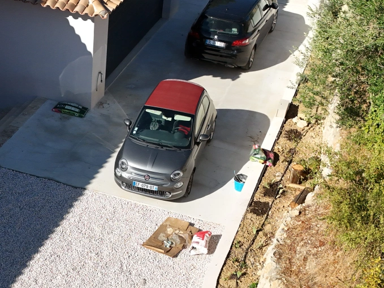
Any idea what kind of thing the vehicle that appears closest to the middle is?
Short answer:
automobile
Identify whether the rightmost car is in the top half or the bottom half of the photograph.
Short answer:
top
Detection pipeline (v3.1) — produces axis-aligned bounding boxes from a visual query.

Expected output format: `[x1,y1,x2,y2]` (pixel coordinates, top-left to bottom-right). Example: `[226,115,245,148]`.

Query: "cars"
[184,0,283,71]
[112,79,222,202]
